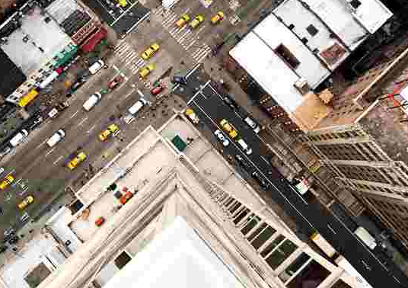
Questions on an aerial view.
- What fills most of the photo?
buildings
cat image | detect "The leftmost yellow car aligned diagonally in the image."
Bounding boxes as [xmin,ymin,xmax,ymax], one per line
[0,174,16,192]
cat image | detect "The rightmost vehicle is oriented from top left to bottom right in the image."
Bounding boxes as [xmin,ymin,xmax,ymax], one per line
[377,247,396,266]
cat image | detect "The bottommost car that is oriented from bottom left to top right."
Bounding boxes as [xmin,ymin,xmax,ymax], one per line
[16,193,35,211]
